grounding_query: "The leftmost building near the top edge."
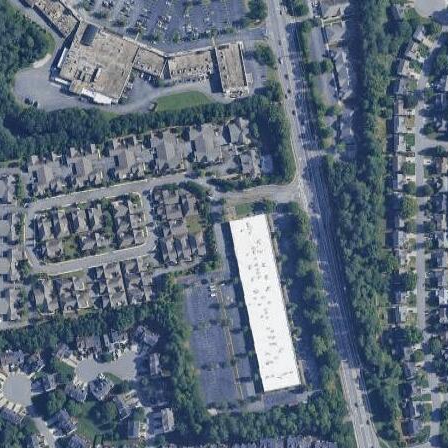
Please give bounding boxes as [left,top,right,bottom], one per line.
[24,0,81,39]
